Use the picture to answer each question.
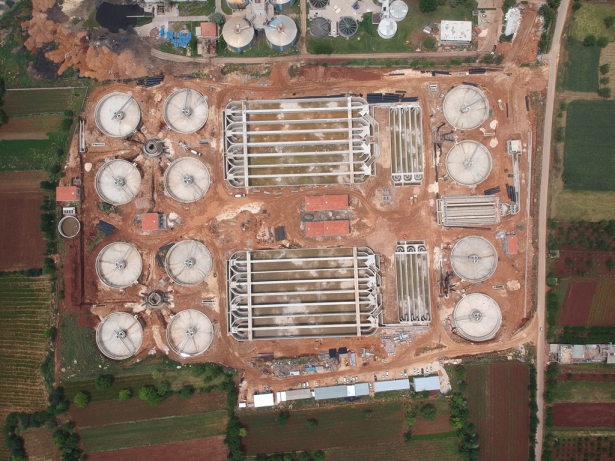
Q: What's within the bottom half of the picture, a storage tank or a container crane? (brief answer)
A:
storage tank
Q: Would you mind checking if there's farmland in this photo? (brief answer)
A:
Yes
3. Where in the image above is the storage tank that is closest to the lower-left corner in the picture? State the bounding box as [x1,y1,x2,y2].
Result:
[95,312,144,359]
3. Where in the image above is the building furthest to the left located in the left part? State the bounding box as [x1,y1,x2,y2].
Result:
[55,187,82,201]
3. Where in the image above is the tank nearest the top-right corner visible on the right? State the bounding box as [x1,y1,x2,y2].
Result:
[443,85,489,131]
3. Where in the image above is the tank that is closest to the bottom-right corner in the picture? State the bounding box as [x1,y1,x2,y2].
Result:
[452,293,502,342]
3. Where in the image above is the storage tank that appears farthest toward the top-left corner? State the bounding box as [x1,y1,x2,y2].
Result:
[94,92,142,139]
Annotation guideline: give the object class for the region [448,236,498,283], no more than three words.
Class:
storage tank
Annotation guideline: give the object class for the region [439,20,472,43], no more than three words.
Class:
building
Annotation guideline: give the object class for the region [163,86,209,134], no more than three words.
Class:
storage tank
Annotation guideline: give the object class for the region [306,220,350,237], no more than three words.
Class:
building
